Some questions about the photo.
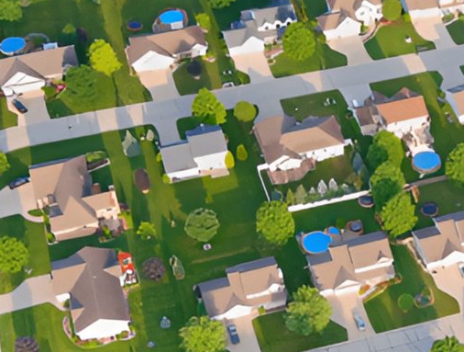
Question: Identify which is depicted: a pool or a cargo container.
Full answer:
There is a pool in the scene.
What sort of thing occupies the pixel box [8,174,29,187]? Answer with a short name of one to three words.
vehicle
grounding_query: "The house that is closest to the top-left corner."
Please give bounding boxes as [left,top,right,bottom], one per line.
[0,47,78,96]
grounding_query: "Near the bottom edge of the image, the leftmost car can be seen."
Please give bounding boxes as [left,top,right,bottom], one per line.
[226,322,239,343]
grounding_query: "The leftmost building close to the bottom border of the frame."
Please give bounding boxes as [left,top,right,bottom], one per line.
[52,247,129,342]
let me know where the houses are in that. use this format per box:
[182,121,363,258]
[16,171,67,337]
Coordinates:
[26,156,124,249]
[307,234,401,299]
[199,258,289,324]
[401,0,464,23]
[222,1,304,64]
[247,115,348,173]
[52,247,129,342]
[158,126,230,183]
[310,0,391,48]
[126,25,211,77]
[349,81,434,138]
[441,85,464,128]
[407,213,464,274]
[0,47,78,96]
